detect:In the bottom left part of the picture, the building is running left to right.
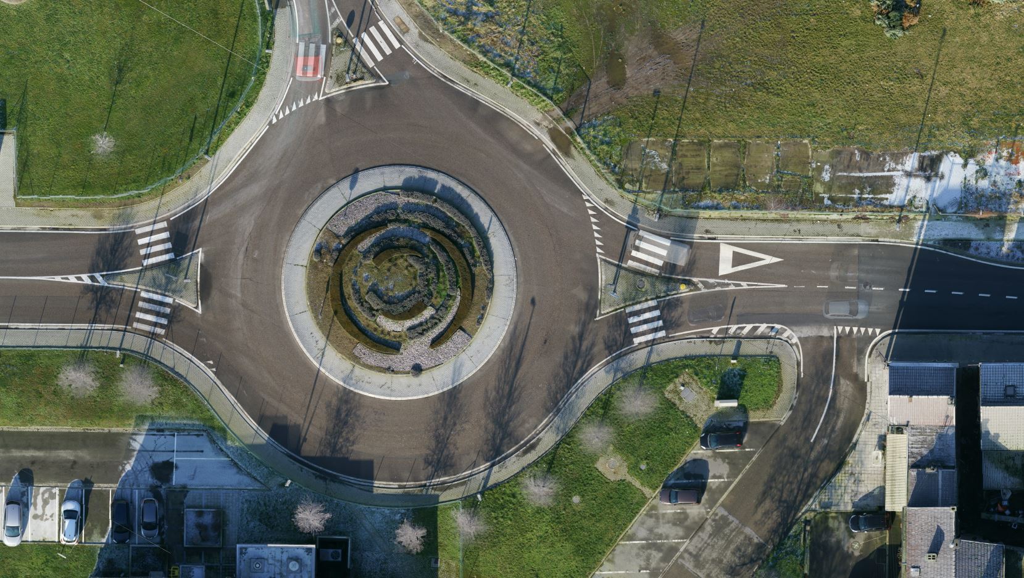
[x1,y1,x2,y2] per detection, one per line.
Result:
[235,545,316,578]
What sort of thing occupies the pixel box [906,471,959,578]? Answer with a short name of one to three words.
house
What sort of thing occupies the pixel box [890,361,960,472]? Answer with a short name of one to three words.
house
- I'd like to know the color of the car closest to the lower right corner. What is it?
black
